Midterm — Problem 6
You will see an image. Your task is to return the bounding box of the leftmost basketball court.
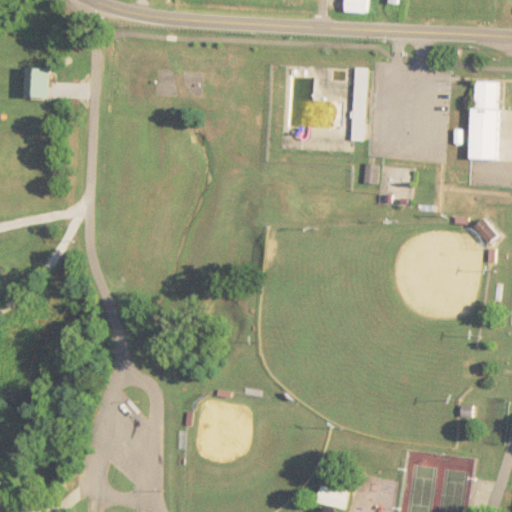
[157,70,177,96]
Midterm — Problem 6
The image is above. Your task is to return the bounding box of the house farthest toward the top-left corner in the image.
[24,68,50,100]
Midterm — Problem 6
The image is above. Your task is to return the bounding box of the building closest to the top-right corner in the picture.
[474,80,502,108]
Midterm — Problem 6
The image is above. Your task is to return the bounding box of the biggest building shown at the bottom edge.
[316,491,352,510]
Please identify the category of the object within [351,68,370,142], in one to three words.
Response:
building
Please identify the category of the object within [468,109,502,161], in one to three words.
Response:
building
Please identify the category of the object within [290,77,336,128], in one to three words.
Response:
swimming pool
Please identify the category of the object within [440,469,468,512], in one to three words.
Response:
tennis court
